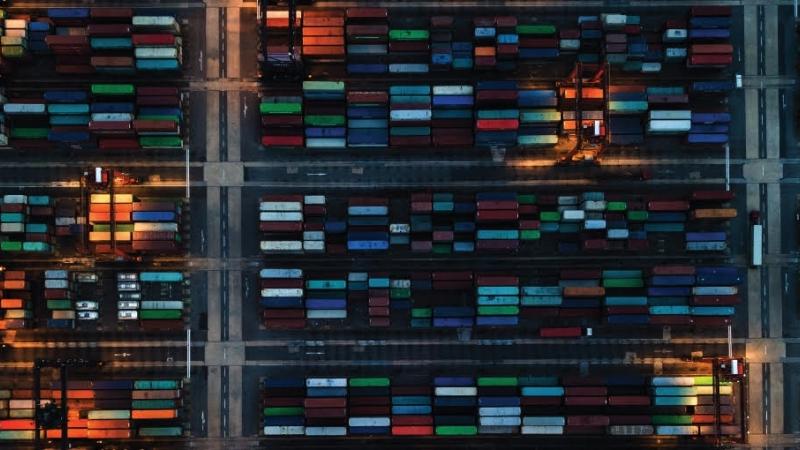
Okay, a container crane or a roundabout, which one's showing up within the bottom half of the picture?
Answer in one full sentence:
The feature located within the bottom half of the picture is a container crane.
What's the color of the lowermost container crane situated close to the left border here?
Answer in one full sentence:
In this view, the lowermost container crane situated close to the left border is black.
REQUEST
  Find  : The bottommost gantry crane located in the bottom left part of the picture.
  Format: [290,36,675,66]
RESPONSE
[32,359,101,450]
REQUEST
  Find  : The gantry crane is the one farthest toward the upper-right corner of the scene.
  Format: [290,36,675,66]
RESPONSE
[552,59,610,165]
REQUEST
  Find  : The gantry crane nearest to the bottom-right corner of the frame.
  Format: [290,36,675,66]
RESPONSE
[680,355,752,445]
